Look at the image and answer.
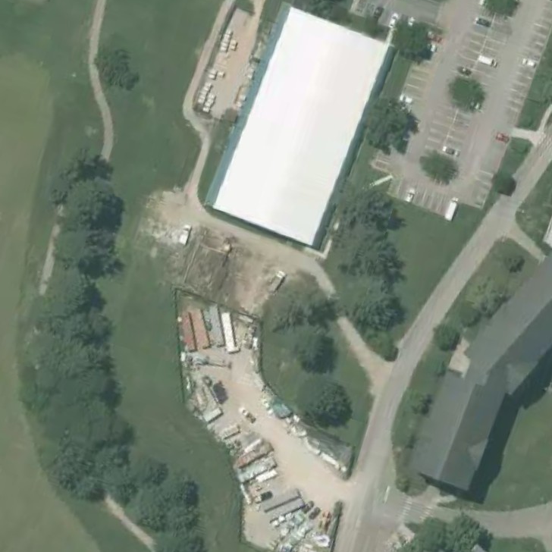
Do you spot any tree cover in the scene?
Yes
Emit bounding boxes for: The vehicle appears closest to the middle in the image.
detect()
[269,271,284,290]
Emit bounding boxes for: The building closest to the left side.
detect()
[200,6,397,250]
